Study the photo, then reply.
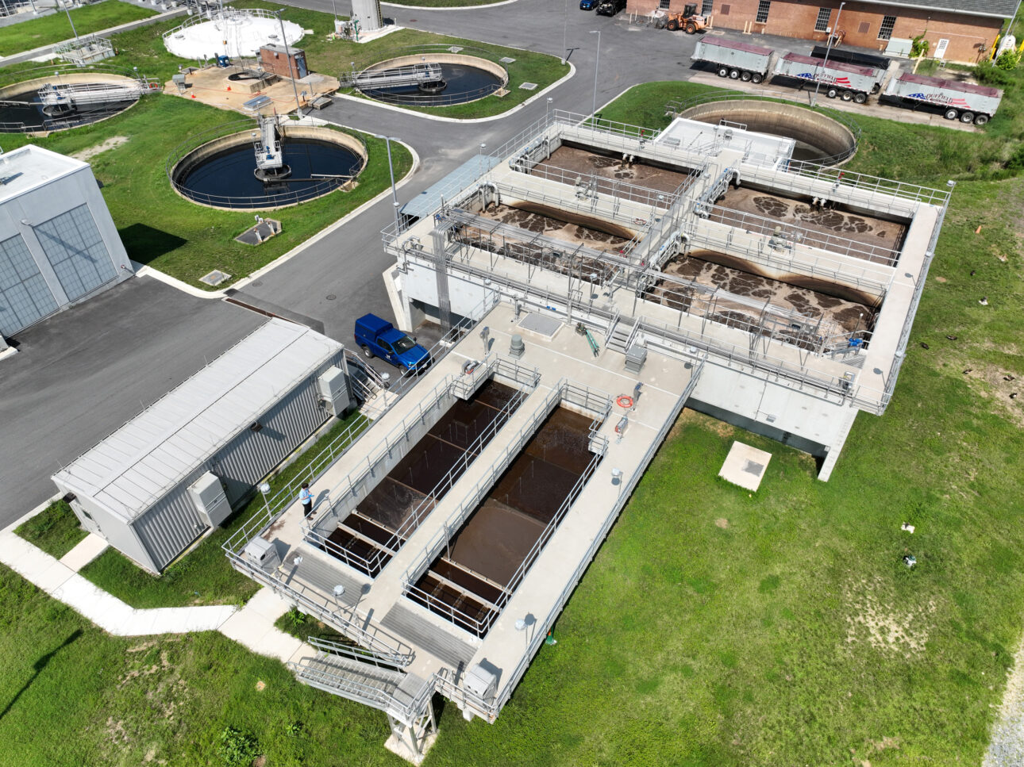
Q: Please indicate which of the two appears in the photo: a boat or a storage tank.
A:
storage tank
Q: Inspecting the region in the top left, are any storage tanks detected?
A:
Yes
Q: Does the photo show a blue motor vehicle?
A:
Yes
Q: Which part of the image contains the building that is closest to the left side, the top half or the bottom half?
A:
top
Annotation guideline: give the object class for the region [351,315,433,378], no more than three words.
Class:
truck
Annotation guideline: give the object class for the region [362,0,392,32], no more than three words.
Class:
silo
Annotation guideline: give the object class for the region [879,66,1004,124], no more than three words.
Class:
trailer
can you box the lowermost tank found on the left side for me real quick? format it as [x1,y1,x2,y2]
[168,126,367,213]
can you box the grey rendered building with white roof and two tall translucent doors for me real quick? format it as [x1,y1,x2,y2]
[0,142,134,333]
